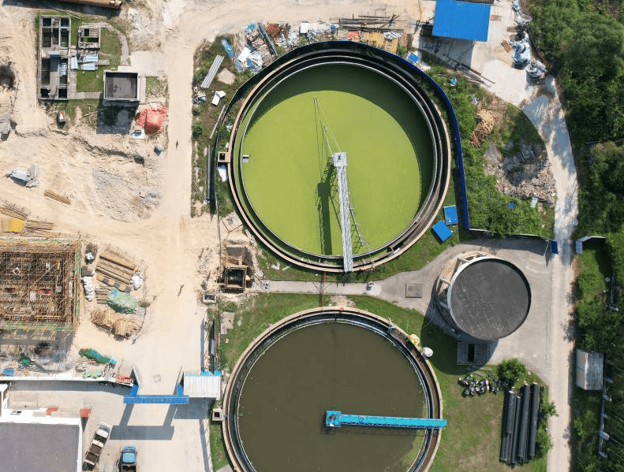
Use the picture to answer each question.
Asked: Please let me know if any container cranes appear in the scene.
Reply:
No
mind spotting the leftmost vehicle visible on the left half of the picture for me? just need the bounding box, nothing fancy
[84,423,112,472]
